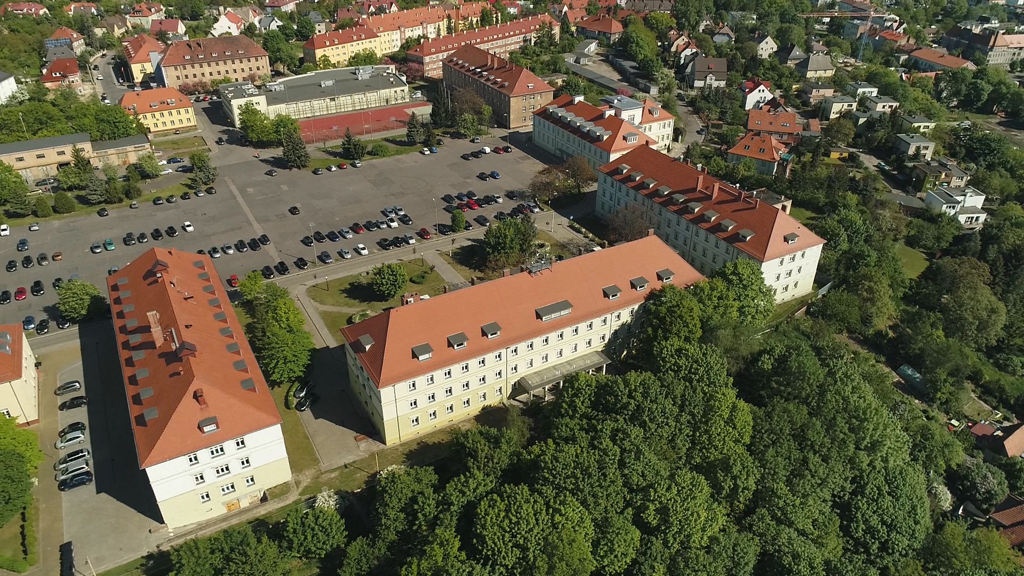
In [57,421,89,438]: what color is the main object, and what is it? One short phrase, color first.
black car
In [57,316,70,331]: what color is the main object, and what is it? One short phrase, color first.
black vehicle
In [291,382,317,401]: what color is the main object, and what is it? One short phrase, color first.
black car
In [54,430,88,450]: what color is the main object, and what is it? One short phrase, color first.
gray car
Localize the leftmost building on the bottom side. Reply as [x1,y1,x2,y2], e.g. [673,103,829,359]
[0,320,50,438]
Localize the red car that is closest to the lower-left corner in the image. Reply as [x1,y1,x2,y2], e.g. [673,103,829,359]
[16,285,28,298]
